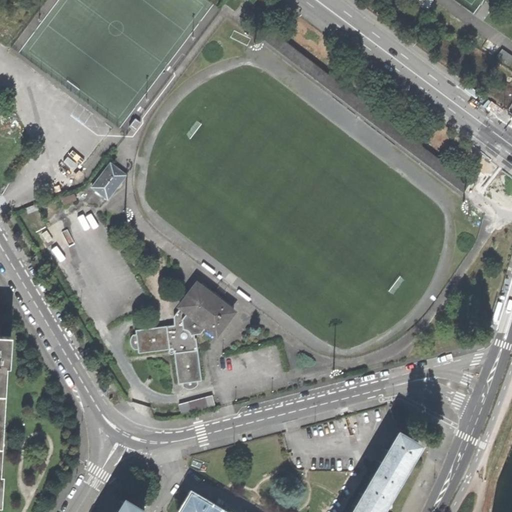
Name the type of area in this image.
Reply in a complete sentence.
The area seen from above is a sports ground.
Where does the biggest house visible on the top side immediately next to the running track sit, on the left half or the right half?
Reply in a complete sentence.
The biggest house visible on the top side immediately next to the running track appears in the left half of the scene.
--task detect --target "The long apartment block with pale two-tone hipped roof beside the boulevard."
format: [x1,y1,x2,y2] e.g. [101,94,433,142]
[341,430,426,512]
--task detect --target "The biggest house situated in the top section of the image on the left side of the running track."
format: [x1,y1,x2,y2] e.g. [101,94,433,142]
[91,163,126,201]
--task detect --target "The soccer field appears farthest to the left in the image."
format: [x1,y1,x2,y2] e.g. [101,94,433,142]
[19,0,215,128]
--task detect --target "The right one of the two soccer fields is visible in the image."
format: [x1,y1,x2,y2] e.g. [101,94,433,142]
[145,66,446,348]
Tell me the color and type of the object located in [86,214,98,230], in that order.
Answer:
white vehicle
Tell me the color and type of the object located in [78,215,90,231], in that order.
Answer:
white vehicle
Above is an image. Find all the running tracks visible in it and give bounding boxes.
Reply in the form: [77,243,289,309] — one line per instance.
[134,48,456,356]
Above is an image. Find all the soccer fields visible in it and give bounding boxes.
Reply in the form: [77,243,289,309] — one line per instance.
[19,0,215,128]
[145,66,446,348]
